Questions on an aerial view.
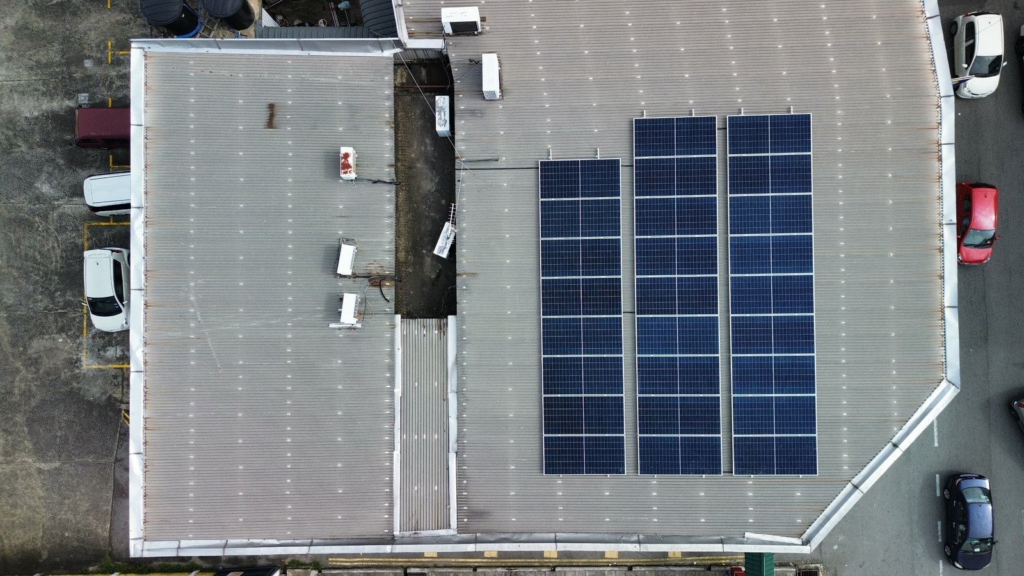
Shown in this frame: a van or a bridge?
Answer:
van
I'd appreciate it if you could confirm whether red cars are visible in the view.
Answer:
Yes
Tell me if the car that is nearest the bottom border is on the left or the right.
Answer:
right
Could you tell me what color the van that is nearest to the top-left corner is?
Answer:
red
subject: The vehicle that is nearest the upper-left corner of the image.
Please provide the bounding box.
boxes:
[75,108,131,151]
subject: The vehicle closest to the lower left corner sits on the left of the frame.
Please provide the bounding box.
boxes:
[82,249,131,332]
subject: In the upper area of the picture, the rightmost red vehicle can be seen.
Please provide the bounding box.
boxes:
[955,183,996,265]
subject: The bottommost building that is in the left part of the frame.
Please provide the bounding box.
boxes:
[130,39,408,556]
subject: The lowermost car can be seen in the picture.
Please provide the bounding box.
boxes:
[943,471,1000,571]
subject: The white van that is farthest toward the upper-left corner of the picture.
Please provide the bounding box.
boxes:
[83,170,131,217]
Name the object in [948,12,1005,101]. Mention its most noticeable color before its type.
white car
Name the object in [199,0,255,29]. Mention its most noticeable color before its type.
black water tank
